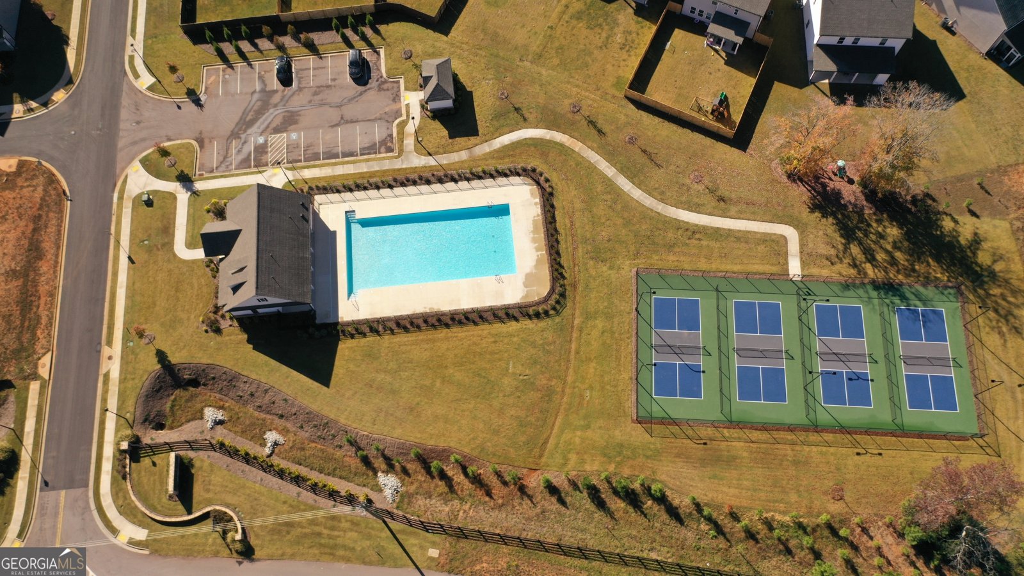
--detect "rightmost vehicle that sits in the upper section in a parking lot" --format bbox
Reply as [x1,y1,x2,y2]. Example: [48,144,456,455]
[347,47,363,78]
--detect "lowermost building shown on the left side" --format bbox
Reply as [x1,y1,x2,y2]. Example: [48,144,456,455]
[200,184,313,317]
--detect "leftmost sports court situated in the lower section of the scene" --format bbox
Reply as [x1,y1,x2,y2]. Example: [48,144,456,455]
[637,273,720,421]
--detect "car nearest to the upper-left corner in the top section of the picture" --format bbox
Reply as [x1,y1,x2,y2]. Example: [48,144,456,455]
[274,54,289,81]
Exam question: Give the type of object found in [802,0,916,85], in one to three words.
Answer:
house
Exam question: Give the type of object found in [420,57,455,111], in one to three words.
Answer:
building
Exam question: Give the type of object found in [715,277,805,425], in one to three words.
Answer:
sports court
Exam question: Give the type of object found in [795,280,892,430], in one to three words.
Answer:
sports court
